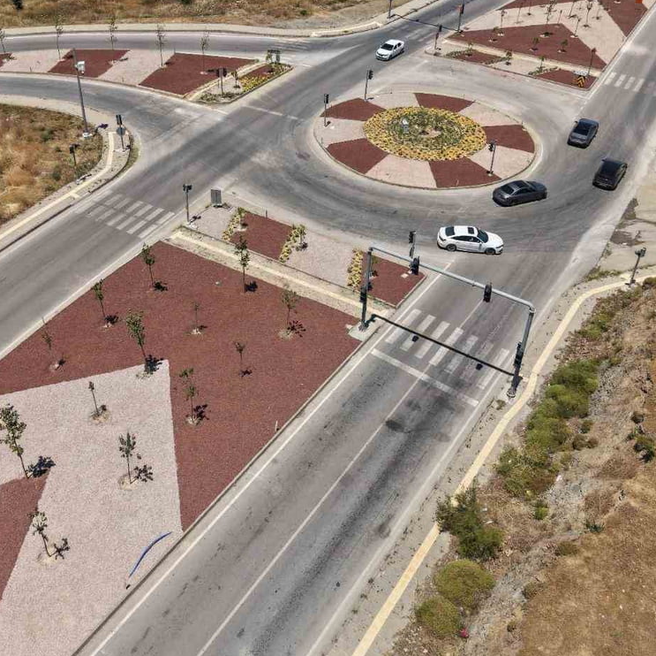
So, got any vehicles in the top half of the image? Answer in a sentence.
Yes, there is a vehicle in the top half of the image.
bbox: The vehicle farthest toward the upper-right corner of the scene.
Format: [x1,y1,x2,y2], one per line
[571,116,599,139]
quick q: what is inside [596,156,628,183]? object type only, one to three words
car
